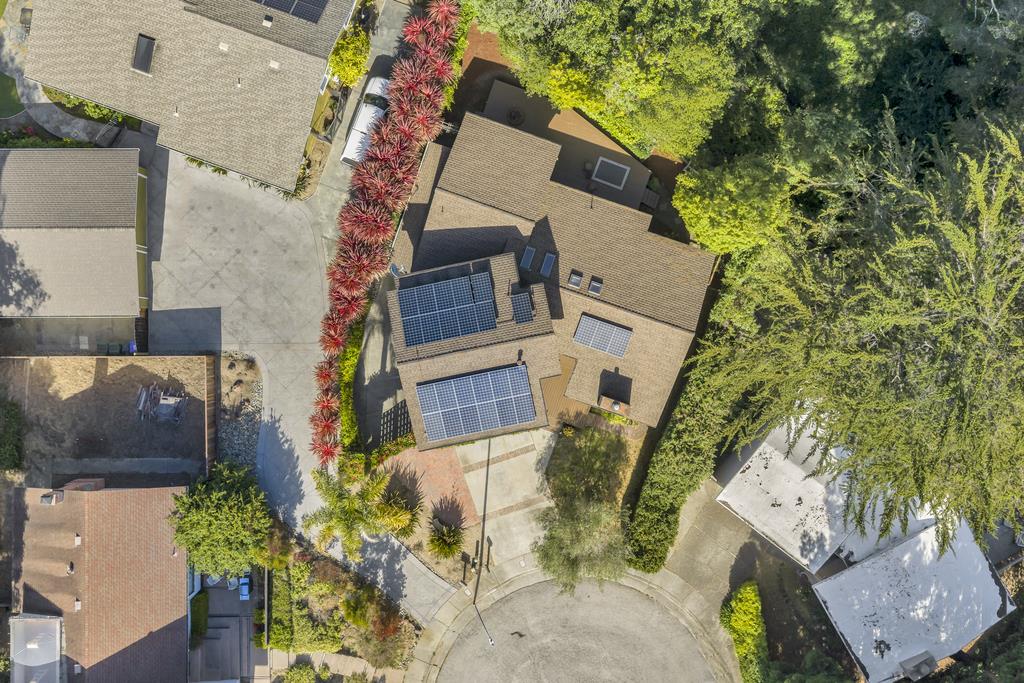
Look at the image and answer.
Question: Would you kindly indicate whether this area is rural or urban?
urban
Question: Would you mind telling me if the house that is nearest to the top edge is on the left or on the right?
left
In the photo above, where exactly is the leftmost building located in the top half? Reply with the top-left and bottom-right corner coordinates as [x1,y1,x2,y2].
[0,147,149,320]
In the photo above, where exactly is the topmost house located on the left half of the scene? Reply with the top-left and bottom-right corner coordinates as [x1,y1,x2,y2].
[24,0,363,194]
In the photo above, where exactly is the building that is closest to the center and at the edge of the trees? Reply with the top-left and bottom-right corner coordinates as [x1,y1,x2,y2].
[383,112,716,453]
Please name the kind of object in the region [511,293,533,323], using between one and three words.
solar panel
